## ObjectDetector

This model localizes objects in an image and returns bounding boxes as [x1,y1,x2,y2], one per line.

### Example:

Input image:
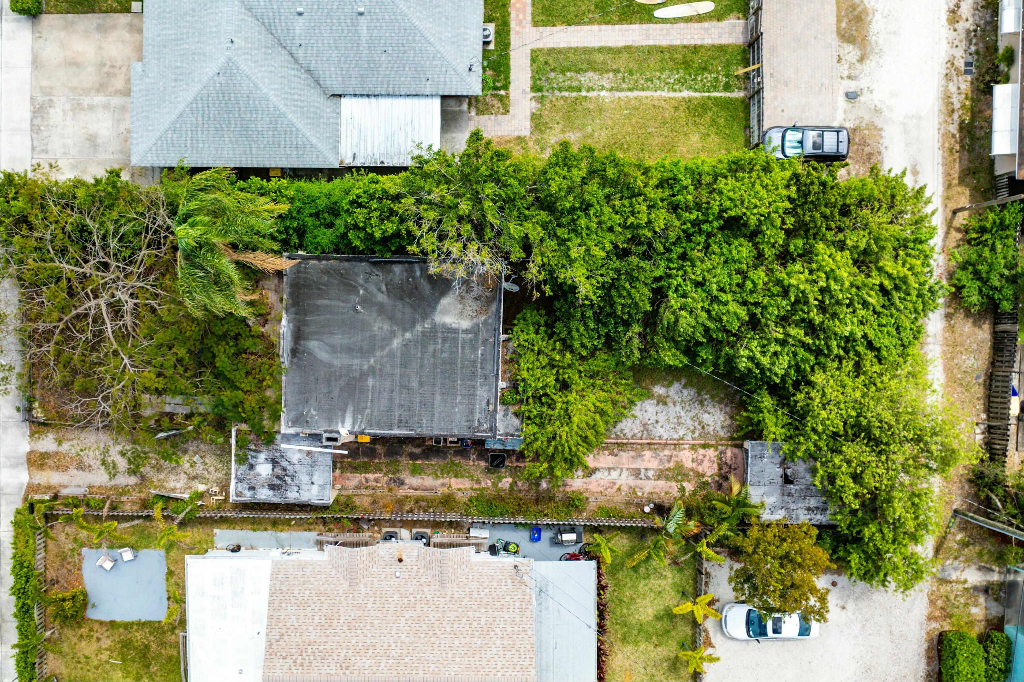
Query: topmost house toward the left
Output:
[127,0,485,170]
